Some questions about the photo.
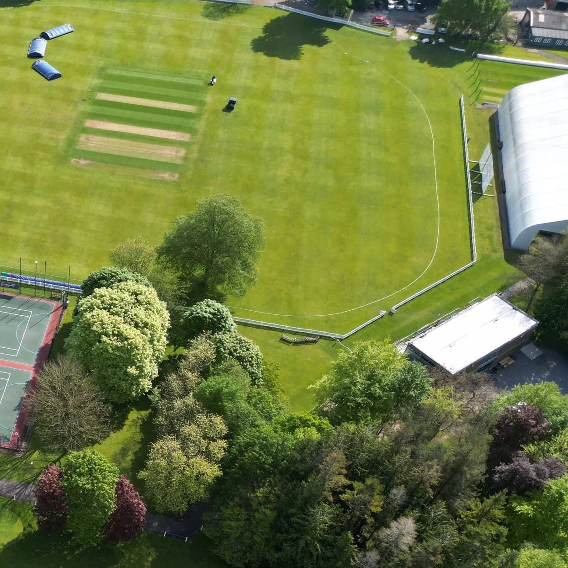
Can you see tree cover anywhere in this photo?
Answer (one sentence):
Yes, there is tree cover in the image.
